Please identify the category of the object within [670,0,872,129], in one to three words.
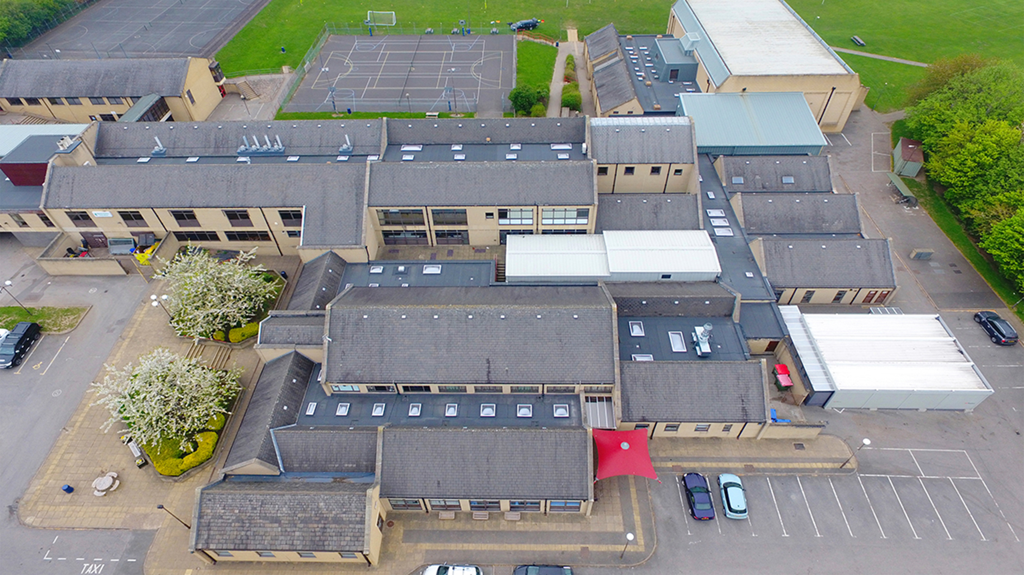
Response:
building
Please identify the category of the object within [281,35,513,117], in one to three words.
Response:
sports court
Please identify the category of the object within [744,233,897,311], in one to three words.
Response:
building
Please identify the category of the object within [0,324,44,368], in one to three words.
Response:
car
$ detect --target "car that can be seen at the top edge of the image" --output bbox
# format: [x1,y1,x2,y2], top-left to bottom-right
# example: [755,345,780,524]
[511,14,542,30]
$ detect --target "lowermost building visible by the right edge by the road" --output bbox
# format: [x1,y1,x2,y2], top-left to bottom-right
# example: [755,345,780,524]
[801,313,997,411]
